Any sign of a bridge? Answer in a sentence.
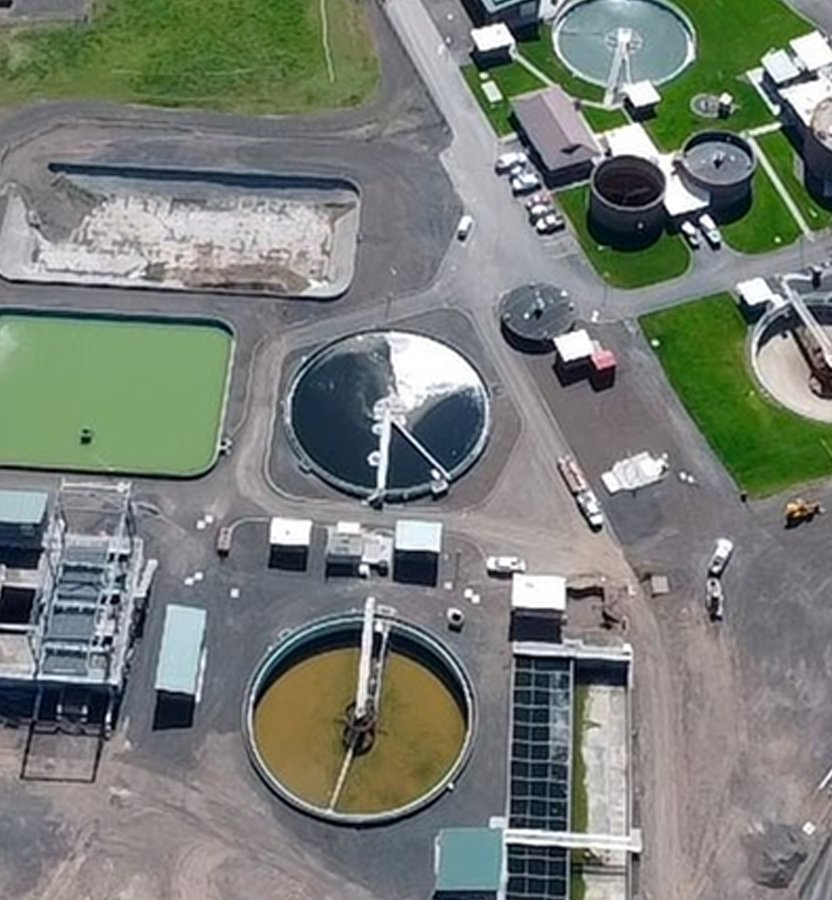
Yes, I can see a bridge in this picture.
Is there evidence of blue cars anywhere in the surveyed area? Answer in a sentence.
No, there's no blue car here.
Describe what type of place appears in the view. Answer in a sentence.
This image shows an industrial area.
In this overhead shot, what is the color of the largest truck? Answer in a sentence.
From above, the largest truck appears white.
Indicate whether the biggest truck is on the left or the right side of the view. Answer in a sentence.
It is on the right.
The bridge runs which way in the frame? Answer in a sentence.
I'd say the bridge is aligned from side to side in the picture.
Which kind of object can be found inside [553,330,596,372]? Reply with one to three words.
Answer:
shed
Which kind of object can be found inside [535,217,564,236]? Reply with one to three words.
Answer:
car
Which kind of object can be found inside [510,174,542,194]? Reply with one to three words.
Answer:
vehicle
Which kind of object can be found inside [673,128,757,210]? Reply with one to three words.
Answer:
storage tank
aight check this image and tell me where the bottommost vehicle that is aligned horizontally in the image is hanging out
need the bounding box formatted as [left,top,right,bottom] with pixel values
[488,558,525,575]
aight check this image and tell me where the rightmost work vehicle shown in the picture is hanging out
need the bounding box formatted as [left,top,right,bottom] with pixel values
[786,498,829,524]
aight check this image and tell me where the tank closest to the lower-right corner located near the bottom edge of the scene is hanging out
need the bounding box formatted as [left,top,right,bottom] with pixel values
[490,641,648,900]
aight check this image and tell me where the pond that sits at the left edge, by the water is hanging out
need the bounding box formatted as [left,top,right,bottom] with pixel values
[0,308,236,475]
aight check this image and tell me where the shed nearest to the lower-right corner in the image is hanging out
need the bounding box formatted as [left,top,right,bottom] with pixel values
[436,828,503,898]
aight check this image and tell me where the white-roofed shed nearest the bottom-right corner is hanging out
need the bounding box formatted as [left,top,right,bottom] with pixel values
[511,575,566,623]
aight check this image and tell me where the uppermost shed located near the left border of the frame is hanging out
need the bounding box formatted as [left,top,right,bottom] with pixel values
[0,490,51,544]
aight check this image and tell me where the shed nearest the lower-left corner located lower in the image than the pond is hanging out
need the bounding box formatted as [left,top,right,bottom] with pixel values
[154,606,210,710]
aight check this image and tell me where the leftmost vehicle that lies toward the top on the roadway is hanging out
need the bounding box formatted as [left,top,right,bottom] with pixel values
[456,212,475,242]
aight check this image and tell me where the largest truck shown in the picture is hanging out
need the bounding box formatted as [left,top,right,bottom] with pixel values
[554,454,606,531]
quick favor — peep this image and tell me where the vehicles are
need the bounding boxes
[535,217,564,236]
[554,454,606,531]
[497,154,526,172]
[510,174,542,194]
[530,203,559,221]
[508,164,536,181]
[709,542,732,576]
[786,498,829,524]
[680,222,699,248]
[699,214,721,244]
[488,558,525,575]
[456,212,475,242]
[525,192,553,209]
